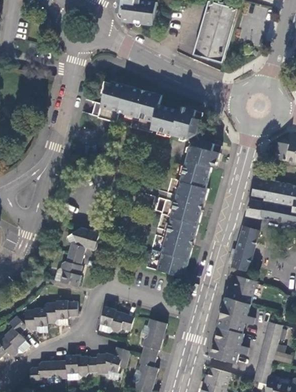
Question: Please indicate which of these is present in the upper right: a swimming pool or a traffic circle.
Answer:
traffic circle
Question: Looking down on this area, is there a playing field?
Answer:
No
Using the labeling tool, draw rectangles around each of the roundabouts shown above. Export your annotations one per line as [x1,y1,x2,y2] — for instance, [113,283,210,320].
[229,74,292,136]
